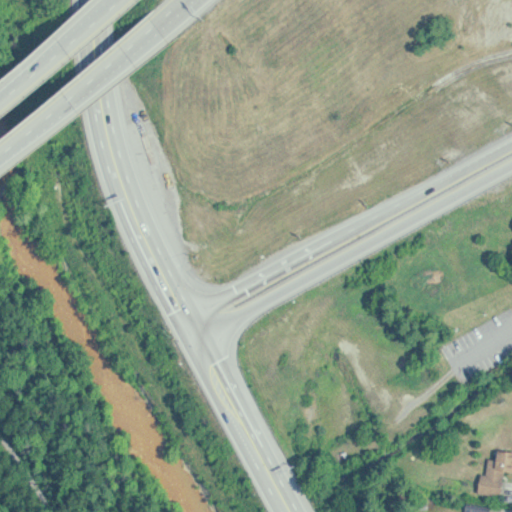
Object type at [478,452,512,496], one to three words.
house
